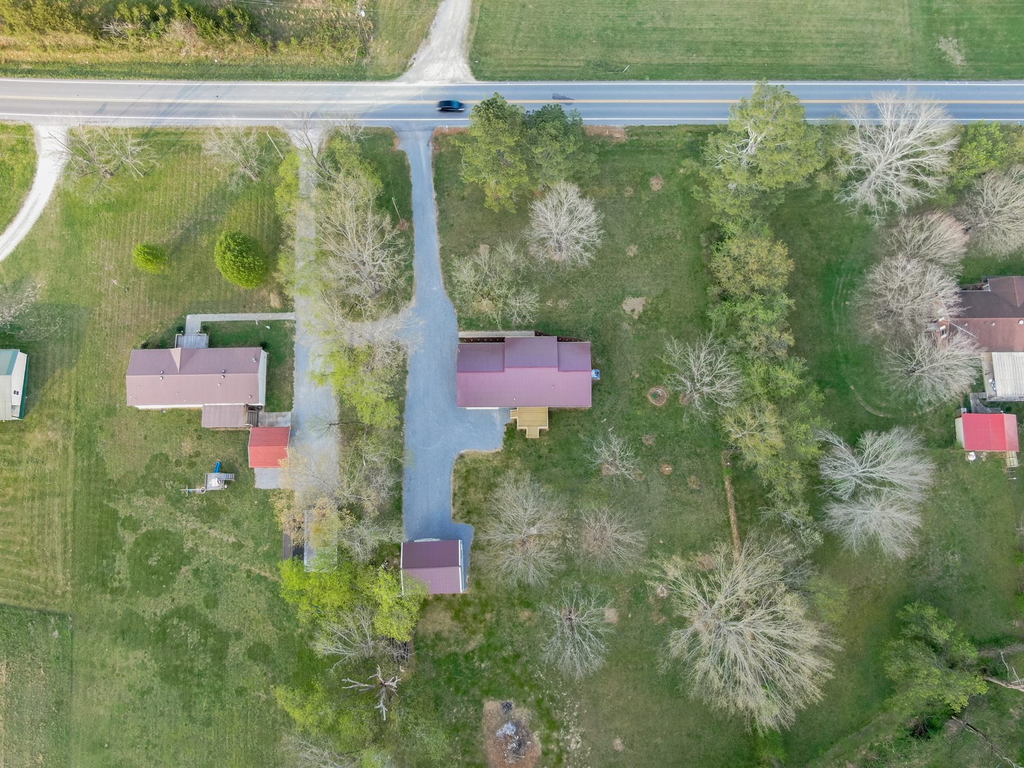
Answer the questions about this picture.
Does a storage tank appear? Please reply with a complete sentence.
No, the scene contains no storage tank.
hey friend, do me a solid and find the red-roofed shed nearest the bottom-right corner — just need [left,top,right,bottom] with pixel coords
[948,409,1020,452]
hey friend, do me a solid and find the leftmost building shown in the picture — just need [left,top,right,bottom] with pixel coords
[0,349,32,421]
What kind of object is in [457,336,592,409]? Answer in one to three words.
house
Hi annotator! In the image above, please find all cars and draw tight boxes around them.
[438,98,464,111]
